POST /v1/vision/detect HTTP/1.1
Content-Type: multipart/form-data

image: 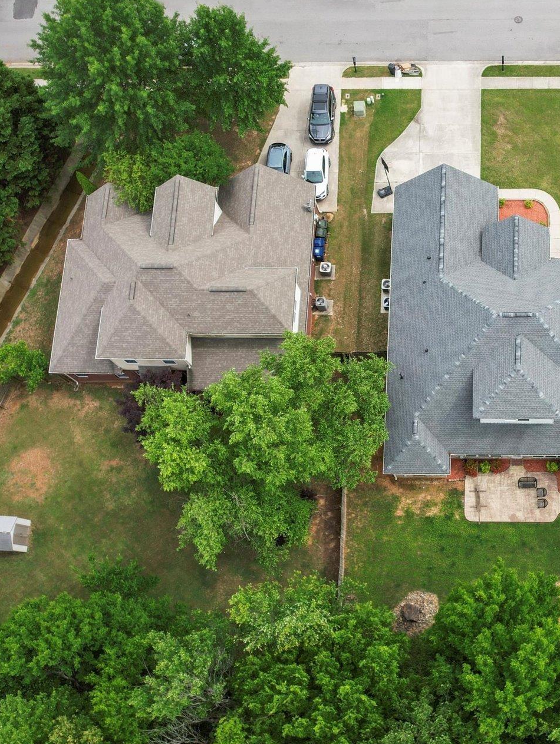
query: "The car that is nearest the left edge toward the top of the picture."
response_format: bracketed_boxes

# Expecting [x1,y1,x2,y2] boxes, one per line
[269,140,296,176]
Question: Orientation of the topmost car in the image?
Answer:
vertically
